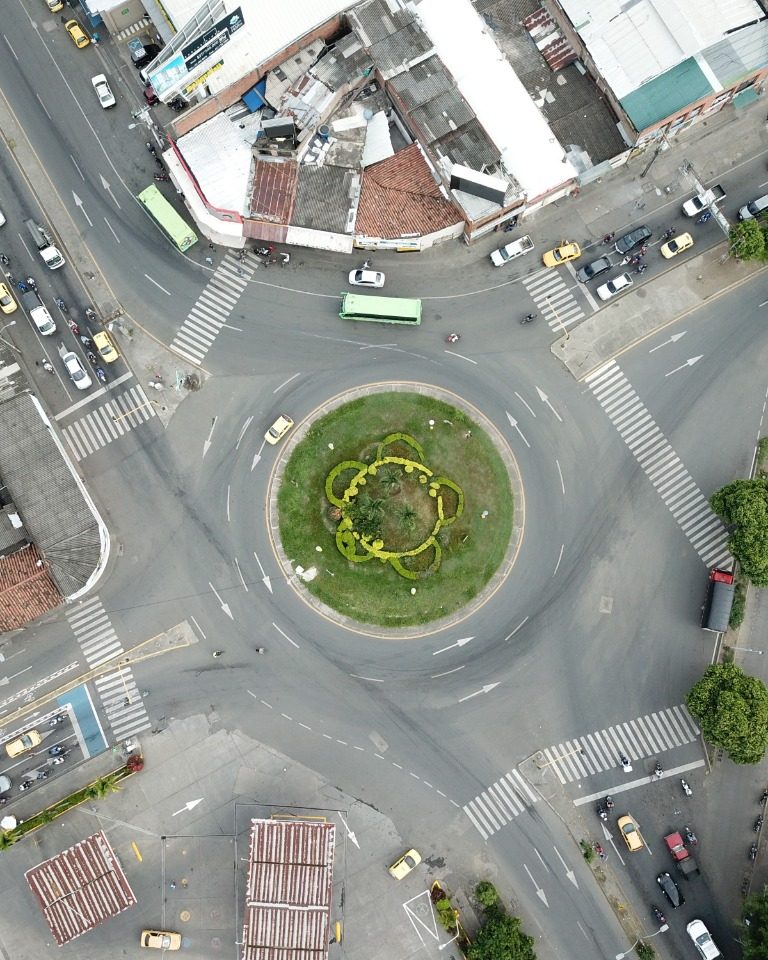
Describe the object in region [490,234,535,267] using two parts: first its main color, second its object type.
white truck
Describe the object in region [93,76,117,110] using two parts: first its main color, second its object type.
white car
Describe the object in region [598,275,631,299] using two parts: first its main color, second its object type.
white car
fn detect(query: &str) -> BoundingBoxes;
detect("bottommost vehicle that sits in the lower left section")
[142,928,182,951]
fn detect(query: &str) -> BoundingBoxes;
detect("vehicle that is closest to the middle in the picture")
[265,413,293,444]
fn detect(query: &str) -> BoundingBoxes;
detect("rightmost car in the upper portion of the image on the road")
[738,195,768,221]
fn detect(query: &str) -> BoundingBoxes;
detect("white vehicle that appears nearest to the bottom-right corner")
[690,921,723,960]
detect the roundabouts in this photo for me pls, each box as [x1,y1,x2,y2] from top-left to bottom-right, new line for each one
[183,305,609,728]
